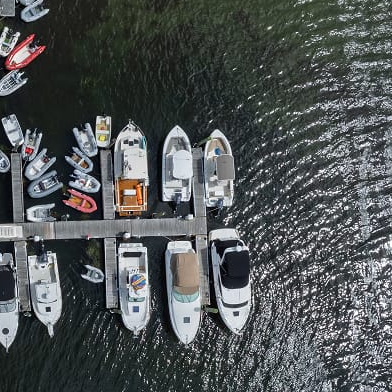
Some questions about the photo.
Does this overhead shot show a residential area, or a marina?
marina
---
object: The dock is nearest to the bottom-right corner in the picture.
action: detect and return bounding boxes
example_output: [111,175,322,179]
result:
[195,235,209,304]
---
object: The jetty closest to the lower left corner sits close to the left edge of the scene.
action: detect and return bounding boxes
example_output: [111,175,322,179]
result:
[14,240,30,312]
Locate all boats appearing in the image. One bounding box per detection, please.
[27,241,61,335]
[25,148,58,180]
[70,120,100,156]
[4,32,46,71]
[0,110,24,145]
[66,170,100,193]
[96,110,111,148]
[202,129,233,220]
[62,150,93,175]
[76,264,104,280]
[28,170,65,199]
[0,251,19,350]
[162,240,202,344]
[113,122,147,215]
[0,25,21,56]
[159,125,192,215]
[0,67,30,96]
[59,188,96,214]
[27,203,60,222]
[0,151,10,173]
[117,243,149,333]
[19,126,43,160]
[22,0,52,22]
[207,227,254,334]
